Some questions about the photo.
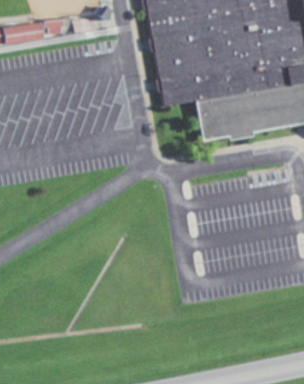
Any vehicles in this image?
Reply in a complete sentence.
No, I can see no vehicle in this picture.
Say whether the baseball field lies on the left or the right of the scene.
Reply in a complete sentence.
The baseball field appears in the left half of the scene.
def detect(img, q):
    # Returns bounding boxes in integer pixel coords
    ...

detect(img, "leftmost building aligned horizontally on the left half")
[2,22,44,44]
